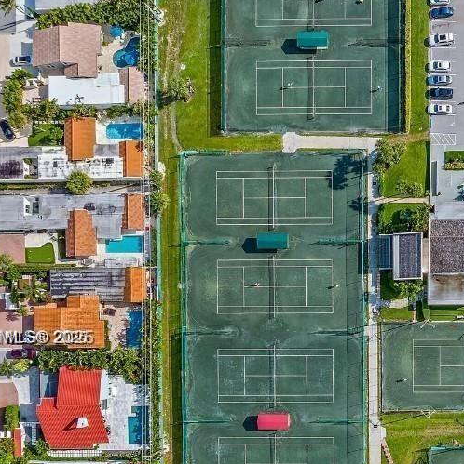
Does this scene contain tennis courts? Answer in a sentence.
Yes, a tennis court appears in the view.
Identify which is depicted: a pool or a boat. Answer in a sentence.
It is a pool that can be seen here.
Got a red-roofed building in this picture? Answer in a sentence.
Yes, the photo shows a red-roofed building.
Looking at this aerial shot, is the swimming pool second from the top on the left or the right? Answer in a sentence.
The swimming pool second from the top appears in the left half of the scene.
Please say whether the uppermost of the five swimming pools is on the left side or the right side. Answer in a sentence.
You can find the uppermost of the five swimming pools on the left side of the picture.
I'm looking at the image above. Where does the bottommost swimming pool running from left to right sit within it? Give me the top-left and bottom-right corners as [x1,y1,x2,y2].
[105,234,146,253]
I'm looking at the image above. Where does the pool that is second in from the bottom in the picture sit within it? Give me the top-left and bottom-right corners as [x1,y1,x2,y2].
[126,307,143,349]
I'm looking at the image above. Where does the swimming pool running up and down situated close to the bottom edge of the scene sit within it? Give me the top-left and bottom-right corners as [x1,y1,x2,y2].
[126,404,145,446]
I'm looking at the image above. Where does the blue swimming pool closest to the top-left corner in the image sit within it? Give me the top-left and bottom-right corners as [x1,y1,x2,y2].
[111,34,144,68]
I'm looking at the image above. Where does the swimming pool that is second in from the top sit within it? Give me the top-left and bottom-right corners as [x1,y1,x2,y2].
[104,119,146,142]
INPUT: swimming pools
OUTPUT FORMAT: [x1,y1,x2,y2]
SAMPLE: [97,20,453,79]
[126,307,143,349]
[126,404,145,446]
[104,119,146,142]
[111,34,144,68]
[105,234,146,253]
